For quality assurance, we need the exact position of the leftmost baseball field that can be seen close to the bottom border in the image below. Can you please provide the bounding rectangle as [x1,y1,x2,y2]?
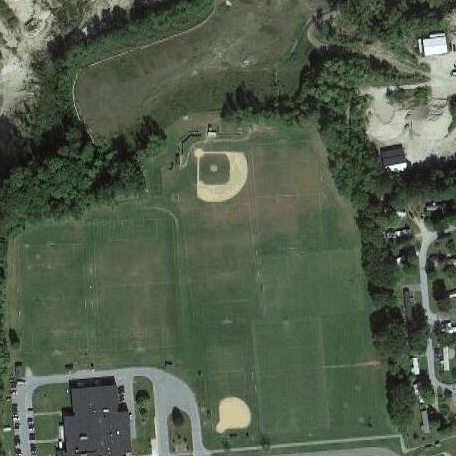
[213,397,250,437]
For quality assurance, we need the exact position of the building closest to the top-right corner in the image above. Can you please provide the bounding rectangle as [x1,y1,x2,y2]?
[417,32,447,56]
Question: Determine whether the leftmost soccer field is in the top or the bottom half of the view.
bottom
